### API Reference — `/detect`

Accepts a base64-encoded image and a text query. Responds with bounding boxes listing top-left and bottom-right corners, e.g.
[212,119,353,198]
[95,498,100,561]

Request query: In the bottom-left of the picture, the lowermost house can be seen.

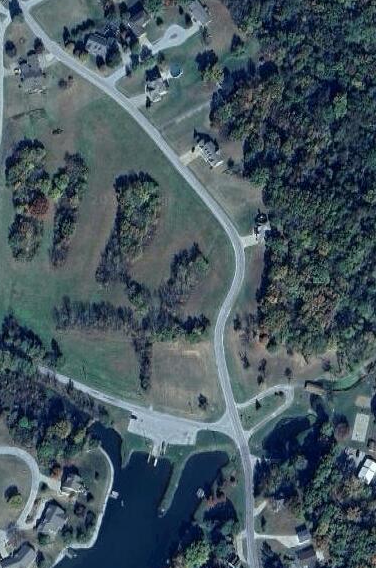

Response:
[0,540,40,568]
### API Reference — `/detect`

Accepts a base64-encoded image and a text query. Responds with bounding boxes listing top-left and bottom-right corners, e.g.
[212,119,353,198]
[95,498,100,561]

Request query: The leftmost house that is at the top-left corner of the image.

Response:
[21,61,45,92]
